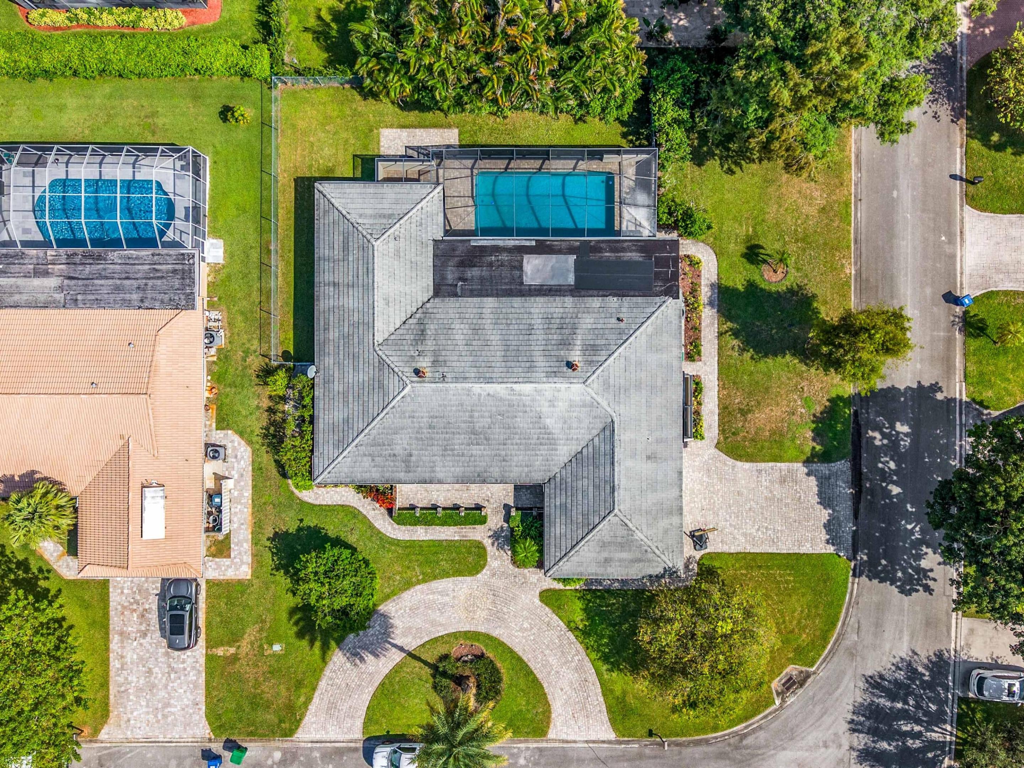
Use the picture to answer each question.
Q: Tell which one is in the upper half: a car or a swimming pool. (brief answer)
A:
swimming pool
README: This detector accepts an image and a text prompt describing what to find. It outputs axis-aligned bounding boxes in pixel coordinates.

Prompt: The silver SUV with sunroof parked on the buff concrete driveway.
[969,664,1024,702]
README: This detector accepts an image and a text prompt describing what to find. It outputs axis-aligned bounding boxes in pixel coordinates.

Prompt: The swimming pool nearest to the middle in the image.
[471,167,618,236]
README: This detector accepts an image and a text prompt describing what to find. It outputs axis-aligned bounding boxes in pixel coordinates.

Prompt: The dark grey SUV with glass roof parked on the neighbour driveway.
[164,579,204,653]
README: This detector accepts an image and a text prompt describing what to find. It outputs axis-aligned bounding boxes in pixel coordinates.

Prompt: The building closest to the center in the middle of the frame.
[312,180,685,580]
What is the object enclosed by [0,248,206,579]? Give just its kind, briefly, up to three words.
house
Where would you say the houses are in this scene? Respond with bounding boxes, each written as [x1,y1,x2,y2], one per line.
[0,248,206,579]
[312,180,685,580]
